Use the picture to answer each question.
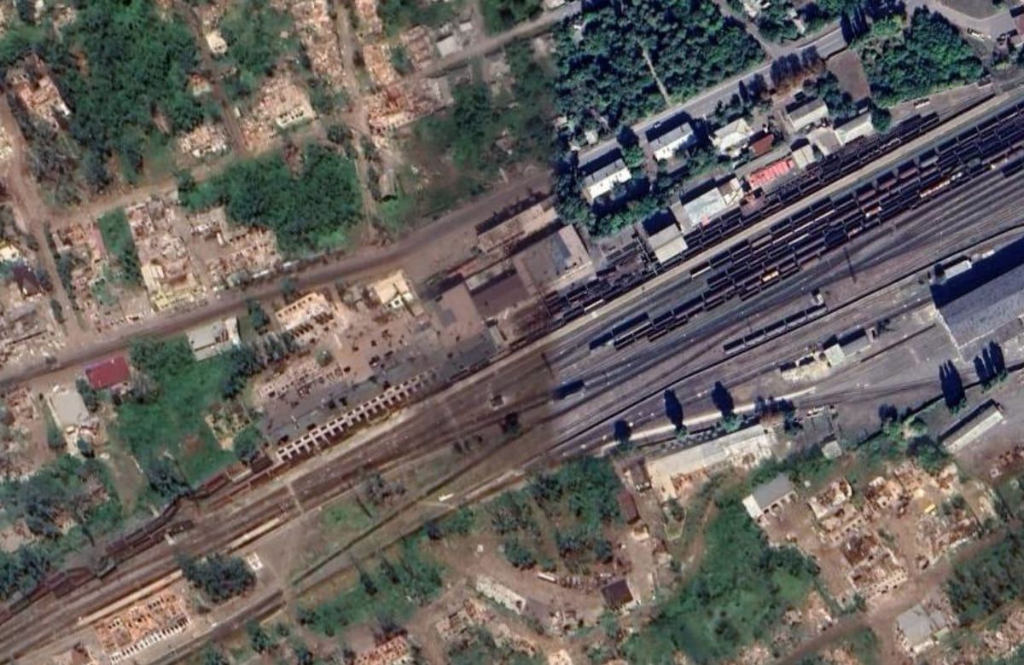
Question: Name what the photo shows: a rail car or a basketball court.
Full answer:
Of the two, only a rail car appears.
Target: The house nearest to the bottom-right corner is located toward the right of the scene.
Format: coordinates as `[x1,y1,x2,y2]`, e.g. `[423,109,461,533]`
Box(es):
[973,599,1024,658]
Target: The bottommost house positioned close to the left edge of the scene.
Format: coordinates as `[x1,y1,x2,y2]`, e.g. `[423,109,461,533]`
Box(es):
[50,637,100,665]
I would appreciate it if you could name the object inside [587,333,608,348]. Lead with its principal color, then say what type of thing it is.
black rail car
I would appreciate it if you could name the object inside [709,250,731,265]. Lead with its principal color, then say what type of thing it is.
black rail car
